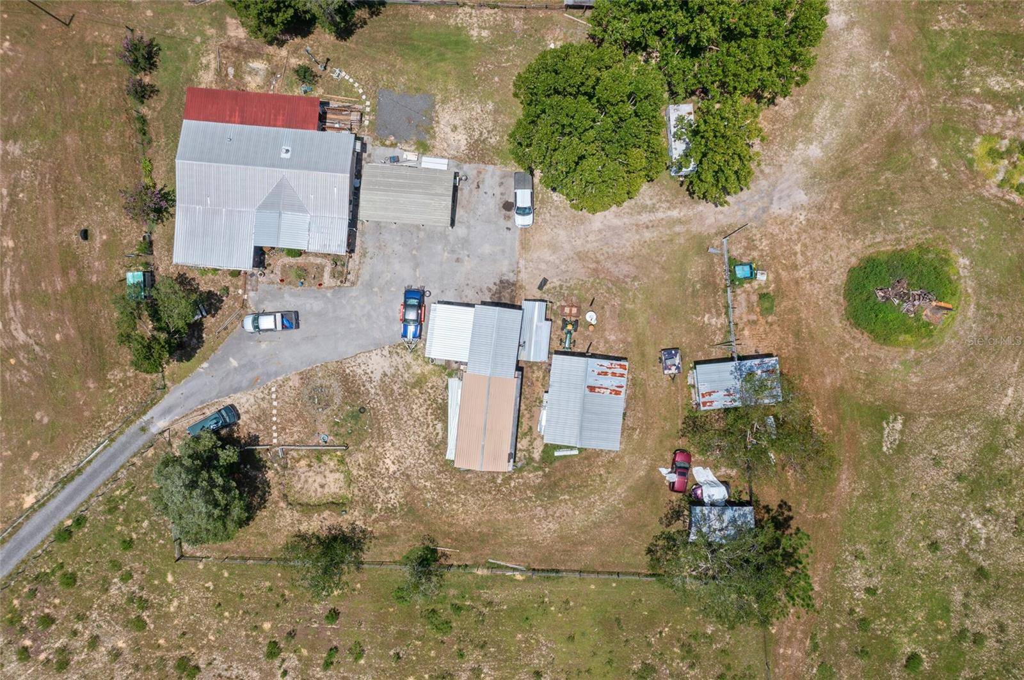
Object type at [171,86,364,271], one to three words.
house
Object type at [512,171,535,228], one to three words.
truck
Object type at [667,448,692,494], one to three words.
car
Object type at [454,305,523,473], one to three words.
building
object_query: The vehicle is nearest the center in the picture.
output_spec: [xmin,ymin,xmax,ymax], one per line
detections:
[560,320,578,353]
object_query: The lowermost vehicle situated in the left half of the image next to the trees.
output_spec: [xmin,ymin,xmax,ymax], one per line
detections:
[184,403,243,440]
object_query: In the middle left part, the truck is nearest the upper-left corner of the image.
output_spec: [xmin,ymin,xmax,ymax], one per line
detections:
[243,311,301,335]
